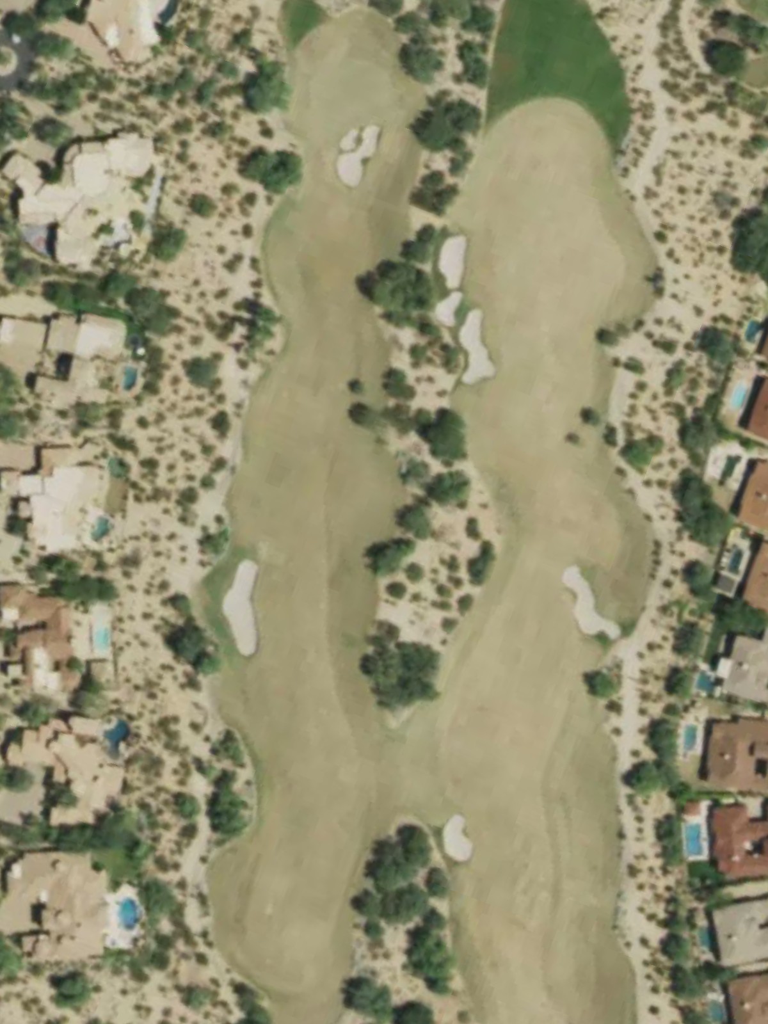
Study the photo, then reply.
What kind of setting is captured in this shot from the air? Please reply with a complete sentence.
What you see here is a golf course.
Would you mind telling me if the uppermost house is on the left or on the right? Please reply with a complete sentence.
The uppermost house sits on the left side.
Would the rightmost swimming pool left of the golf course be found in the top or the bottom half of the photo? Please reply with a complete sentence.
The rightmost swimming pool left of the golf course sits in the top half of the picture.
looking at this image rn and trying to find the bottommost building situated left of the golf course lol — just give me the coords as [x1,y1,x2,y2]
[0,852,106,961]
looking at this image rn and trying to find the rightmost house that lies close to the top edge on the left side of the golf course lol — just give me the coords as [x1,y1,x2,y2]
[88,0,160,64]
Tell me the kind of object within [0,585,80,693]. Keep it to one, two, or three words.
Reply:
house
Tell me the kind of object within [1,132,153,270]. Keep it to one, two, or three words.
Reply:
house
